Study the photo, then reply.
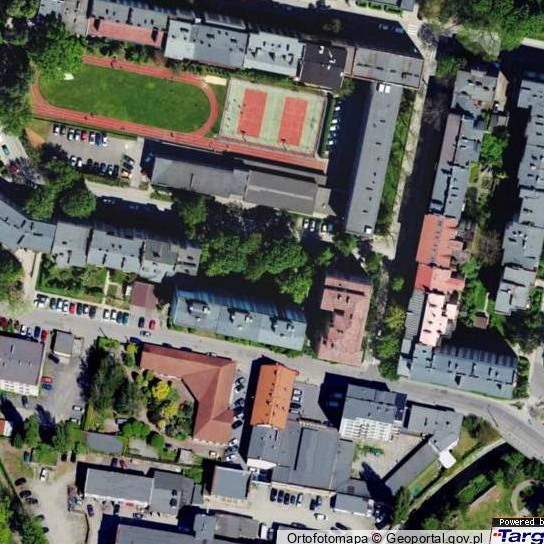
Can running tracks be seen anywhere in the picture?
Yes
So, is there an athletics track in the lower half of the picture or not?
No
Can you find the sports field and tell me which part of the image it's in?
top left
